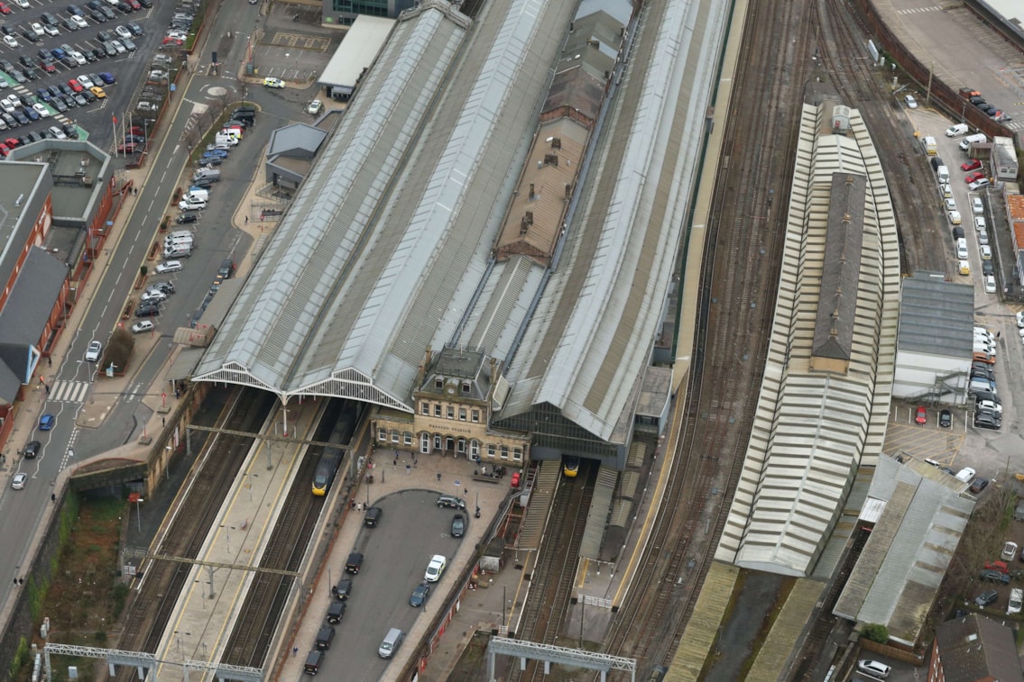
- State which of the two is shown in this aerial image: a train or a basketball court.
train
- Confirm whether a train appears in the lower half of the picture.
Yes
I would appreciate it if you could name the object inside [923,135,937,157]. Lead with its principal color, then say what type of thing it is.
white vehicle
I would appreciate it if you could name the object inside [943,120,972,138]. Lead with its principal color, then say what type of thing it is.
white vehicle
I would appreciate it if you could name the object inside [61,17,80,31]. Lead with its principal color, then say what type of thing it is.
gray car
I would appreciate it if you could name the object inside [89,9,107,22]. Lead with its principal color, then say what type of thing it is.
gray vehicle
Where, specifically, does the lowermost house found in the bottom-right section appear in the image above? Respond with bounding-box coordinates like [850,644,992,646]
[933,613,1023,682]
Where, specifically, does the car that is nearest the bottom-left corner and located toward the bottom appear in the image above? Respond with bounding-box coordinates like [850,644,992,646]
[12,472,27,491]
